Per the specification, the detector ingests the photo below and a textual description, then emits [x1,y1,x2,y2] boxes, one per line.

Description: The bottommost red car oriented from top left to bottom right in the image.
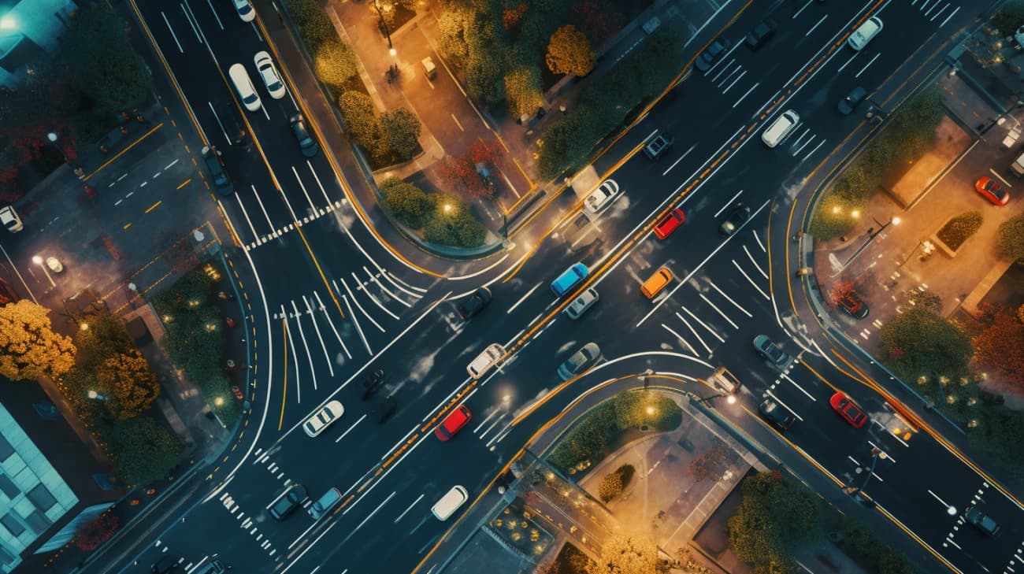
[825,389,870,429]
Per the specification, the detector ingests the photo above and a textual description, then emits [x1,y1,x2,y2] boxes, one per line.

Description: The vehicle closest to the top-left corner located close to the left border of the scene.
[0,201,27,237]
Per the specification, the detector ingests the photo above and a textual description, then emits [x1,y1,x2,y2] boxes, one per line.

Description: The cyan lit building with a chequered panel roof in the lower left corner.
[0,373,97,574]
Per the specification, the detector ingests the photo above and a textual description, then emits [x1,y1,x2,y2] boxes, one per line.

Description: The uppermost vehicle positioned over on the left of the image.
[229,0,257,25]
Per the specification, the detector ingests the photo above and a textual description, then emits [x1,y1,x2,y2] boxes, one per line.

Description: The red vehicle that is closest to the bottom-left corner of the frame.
[432,402,475,443]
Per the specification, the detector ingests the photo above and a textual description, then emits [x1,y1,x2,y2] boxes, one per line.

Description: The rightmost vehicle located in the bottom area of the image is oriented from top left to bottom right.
[960,504,1001,538]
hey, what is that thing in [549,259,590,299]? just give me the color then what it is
blue car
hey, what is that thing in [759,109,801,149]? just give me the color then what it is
white car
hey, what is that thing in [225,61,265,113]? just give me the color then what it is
white car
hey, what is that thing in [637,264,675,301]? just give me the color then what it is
orange car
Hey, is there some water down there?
No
